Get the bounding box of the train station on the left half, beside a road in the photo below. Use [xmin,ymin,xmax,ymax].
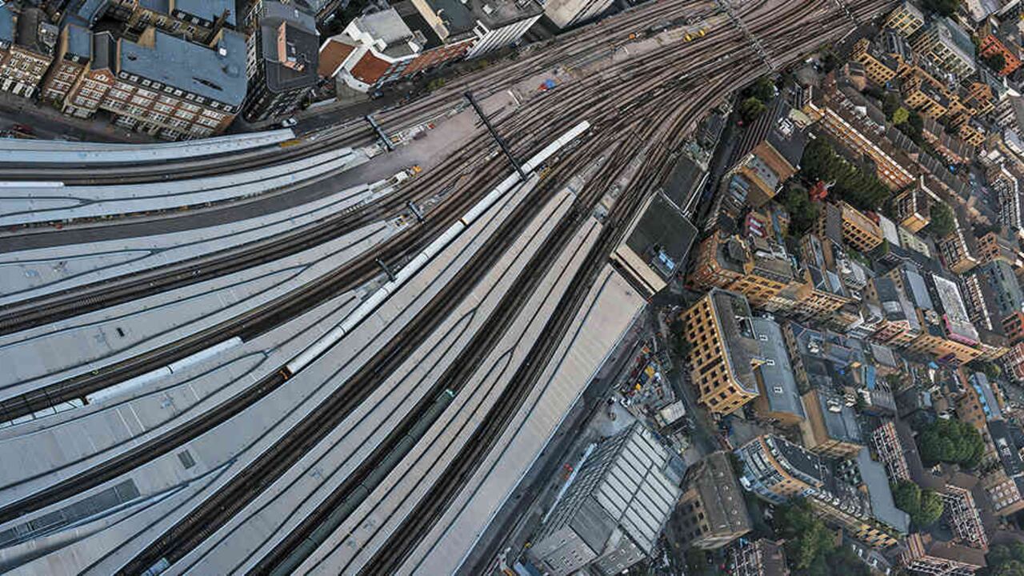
[0,128,647,576]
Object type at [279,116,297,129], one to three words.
vehicle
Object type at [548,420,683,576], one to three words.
warehouse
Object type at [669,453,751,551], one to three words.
building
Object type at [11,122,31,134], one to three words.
vehicle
